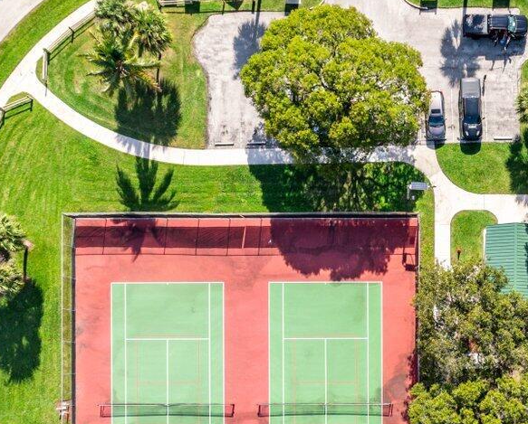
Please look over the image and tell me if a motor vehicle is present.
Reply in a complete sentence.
Yes, there is a motor vehicle in the image.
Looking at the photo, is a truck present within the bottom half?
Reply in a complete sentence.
No, no truck appears within the bottom half.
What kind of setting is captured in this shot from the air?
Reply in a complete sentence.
This image shows a sports ground.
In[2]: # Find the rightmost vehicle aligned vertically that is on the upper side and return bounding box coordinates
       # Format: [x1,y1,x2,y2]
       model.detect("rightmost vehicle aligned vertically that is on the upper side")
[459,77,484,140]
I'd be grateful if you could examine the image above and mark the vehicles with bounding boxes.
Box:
[459,77,484,140]
[424,87,448,139]
[465,9,528,44]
